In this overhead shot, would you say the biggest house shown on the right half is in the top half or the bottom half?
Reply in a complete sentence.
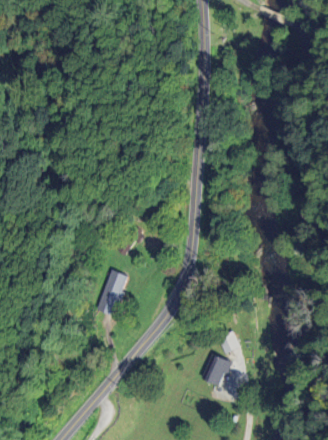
Seen from above, the biggest house shown on the right half lies in the bottom half of the view.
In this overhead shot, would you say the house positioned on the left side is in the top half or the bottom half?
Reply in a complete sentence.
It is in the bottom half that the house positioned on the left side appears.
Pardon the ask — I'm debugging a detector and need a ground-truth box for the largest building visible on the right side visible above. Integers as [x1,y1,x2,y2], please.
[204,355,234,386]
